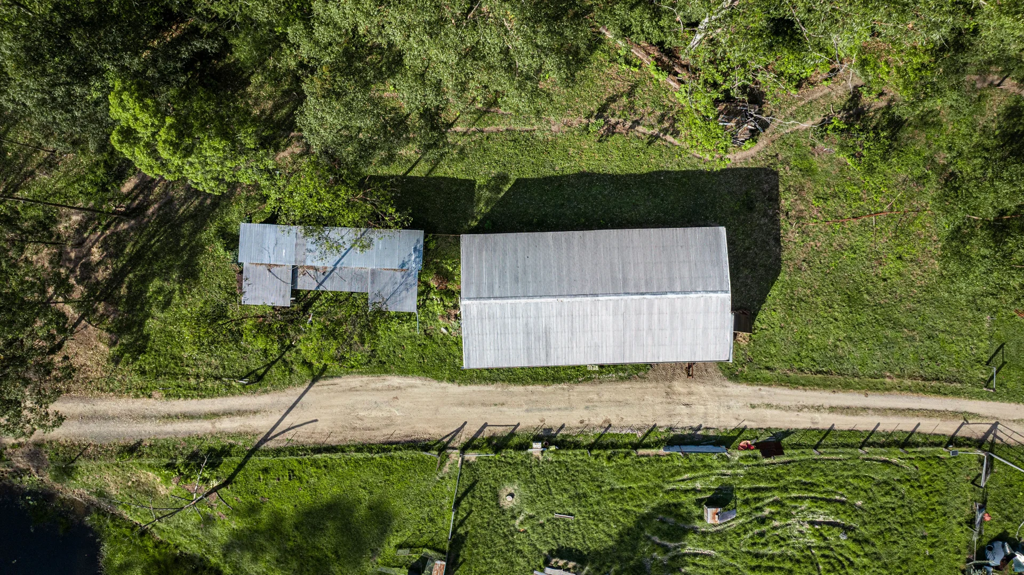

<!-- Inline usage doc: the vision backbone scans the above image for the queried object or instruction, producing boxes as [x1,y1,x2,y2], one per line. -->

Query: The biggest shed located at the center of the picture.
[459,227,735,370]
